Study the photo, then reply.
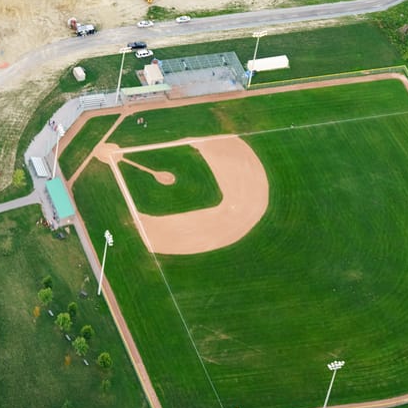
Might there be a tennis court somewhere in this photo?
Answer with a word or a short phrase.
No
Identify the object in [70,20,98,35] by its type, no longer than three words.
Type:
vehicle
